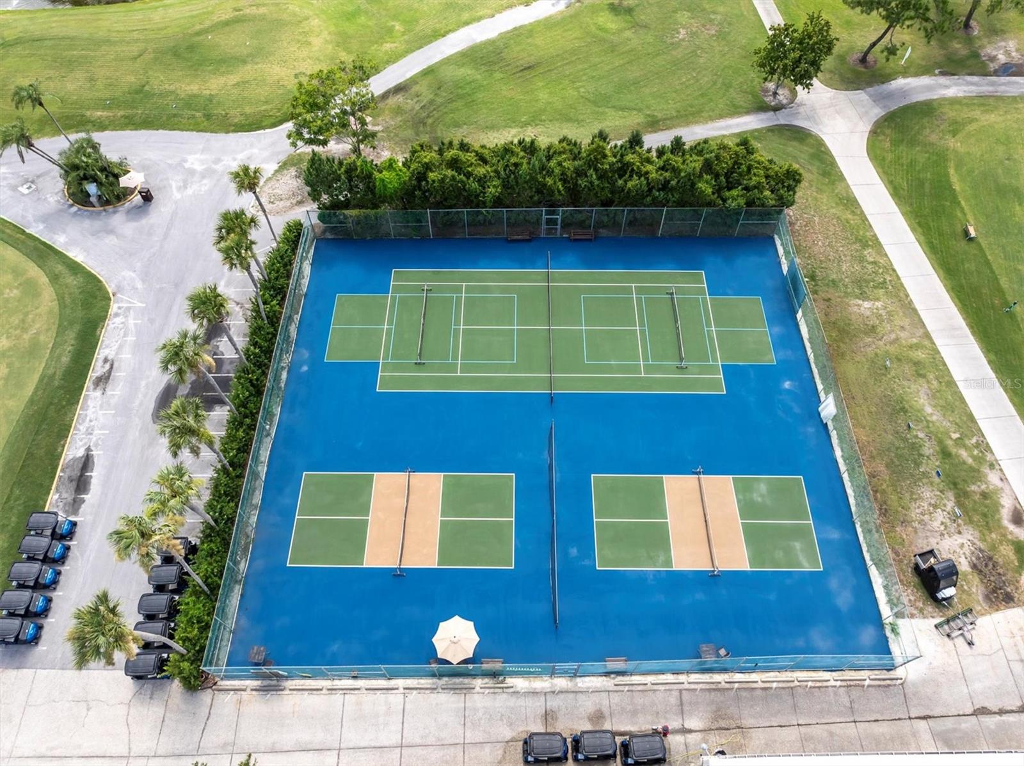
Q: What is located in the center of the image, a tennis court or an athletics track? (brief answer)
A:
tennis court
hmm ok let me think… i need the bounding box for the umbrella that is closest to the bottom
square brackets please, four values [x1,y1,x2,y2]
[431,615,481,667]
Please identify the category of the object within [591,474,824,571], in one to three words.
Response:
sports court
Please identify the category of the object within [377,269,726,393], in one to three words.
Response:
tennis court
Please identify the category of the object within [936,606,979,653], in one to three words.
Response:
trailer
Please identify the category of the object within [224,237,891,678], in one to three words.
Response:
sports court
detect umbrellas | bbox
[431,615,481,667]
[120,172,146,189]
